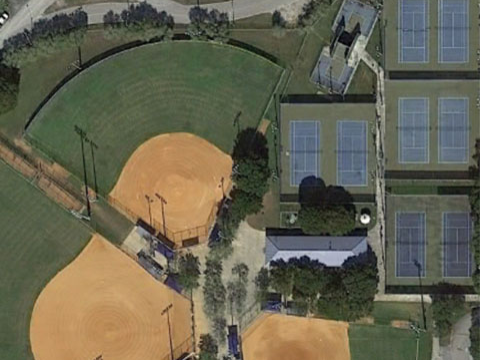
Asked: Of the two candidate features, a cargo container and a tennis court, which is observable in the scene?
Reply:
tennis court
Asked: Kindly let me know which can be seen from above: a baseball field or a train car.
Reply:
baseball field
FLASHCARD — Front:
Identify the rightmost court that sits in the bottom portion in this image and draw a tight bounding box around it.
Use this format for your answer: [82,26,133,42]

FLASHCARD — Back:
[434,195,476,293]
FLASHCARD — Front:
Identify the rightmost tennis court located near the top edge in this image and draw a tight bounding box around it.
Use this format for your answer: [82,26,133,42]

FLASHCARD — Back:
[434,0,480,79]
